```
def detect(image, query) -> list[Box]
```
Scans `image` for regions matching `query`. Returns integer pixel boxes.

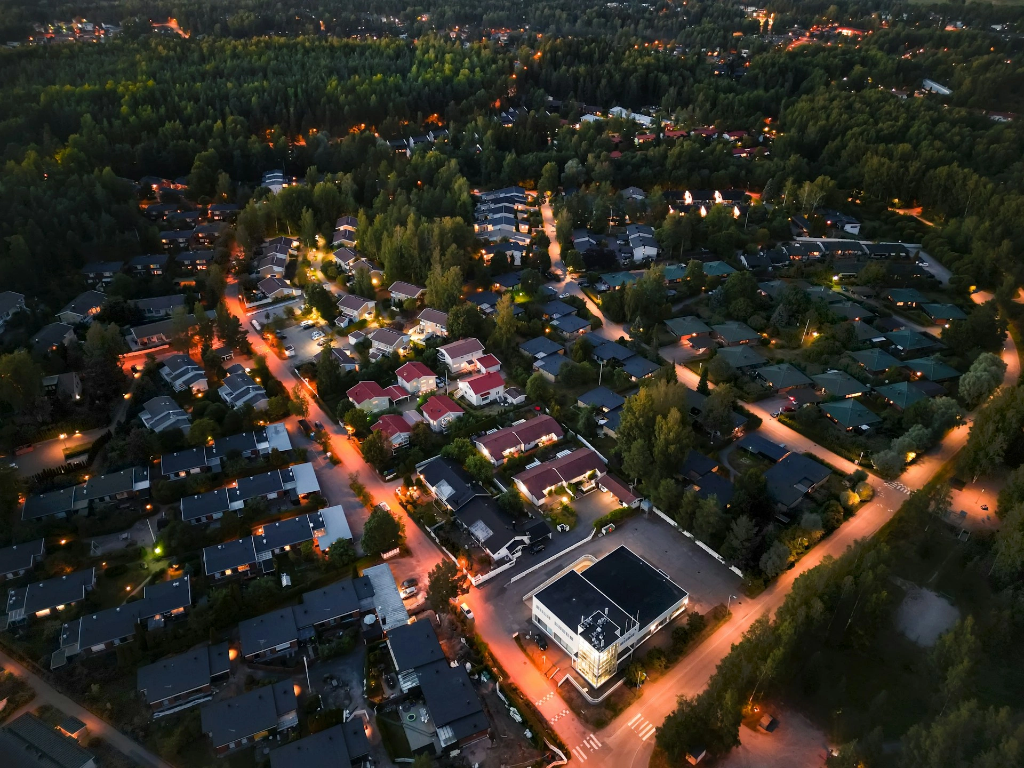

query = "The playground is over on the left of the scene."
[86,508,164,553]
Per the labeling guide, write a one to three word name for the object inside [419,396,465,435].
house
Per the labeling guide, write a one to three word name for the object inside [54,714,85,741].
shed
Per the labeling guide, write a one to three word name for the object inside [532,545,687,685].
building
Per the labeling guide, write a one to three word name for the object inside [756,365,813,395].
house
